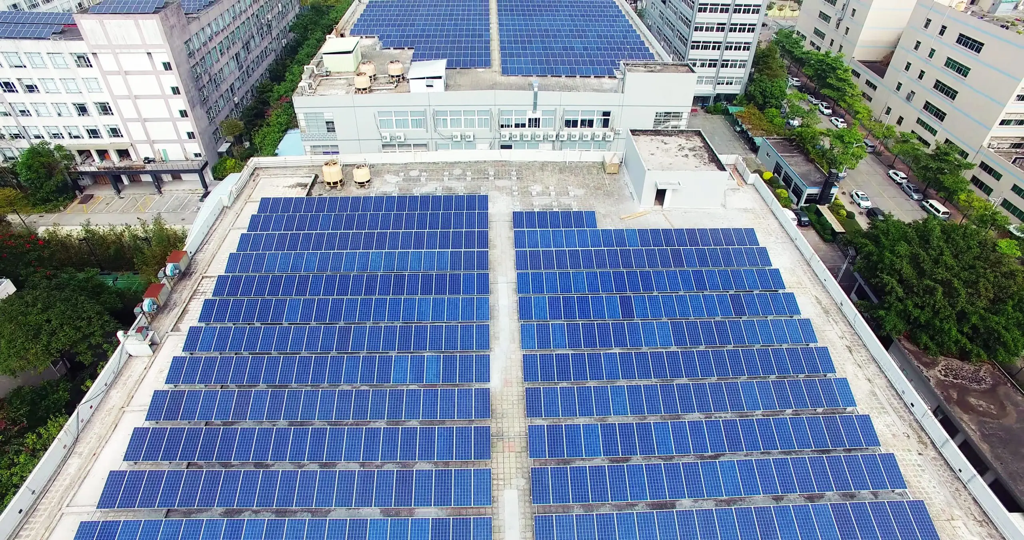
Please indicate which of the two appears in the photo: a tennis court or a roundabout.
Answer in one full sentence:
It is a tennis court that can be seen here.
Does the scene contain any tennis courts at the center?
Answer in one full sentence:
No, at the center there is no tennis court.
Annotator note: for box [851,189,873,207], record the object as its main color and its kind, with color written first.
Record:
white car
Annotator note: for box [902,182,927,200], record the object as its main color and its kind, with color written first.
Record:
gray car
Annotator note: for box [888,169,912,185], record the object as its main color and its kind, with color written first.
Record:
white car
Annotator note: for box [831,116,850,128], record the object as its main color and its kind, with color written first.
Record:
white vehicle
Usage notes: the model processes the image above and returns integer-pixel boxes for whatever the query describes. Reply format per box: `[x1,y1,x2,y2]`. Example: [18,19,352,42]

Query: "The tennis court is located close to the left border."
[18,269,156,312]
